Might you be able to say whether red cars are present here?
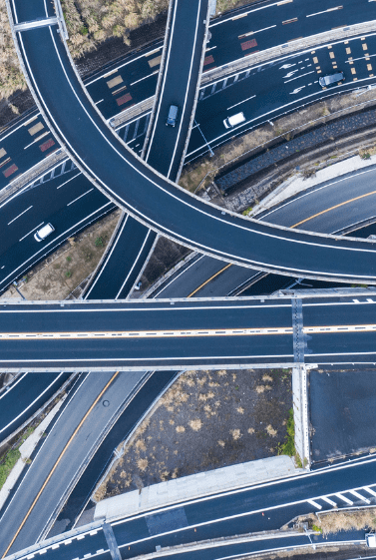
No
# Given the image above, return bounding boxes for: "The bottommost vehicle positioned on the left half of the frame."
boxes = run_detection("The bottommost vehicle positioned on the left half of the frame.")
[31,220,56,241]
